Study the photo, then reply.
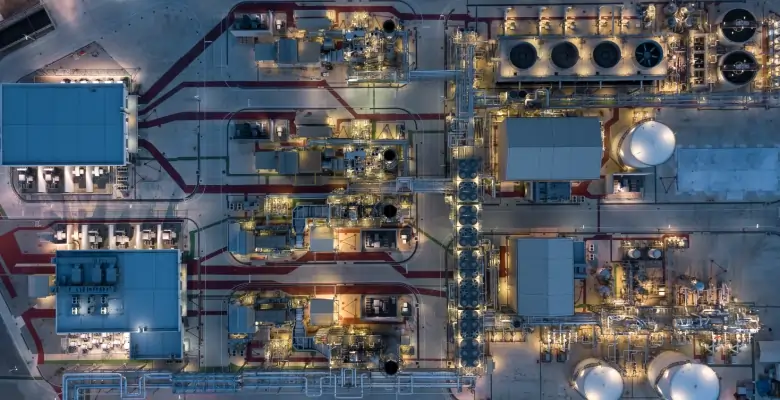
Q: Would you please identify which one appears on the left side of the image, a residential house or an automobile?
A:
residential house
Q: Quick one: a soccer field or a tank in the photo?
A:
tank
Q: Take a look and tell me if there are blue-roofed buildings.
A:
Yes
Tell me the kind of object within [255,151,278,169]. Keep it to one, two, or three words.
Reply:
house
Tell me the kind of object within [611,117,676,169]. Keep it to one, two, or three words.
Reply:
storage tank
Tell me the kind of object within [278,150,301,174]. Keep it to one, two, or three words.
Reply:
house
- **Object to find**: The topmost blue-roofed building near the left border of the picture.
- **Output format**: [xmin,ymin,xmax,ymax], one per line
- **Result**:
[0,83,133,165]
